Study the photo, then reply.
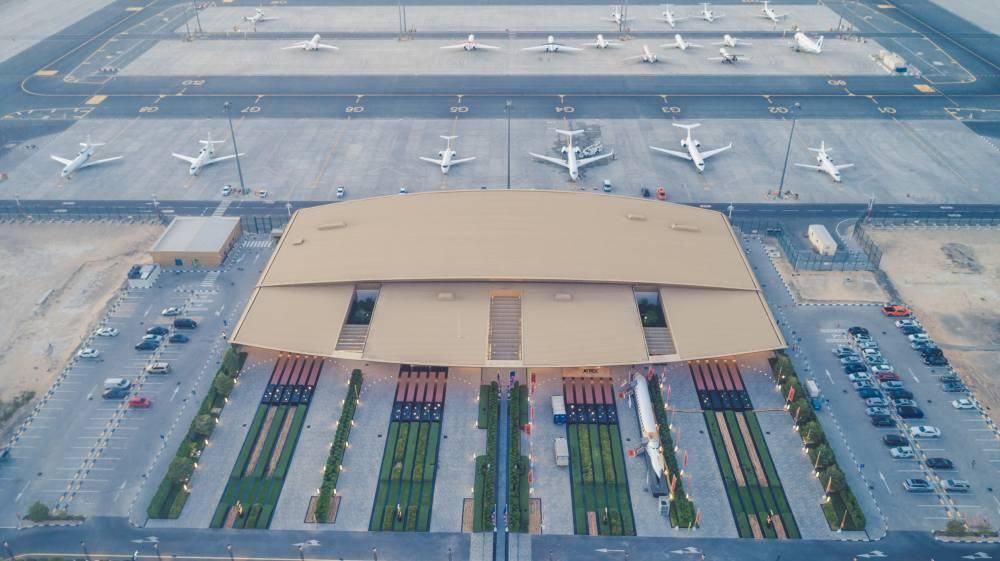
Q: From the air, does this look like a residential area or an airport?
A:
airport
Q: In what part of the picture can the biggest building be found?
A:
center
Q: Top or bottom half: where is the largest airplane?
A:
bottom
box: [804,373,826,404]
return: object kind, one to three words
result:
truck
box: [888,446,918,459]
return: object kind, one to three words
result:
vehicle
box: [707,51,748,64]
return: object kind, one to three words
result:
airplane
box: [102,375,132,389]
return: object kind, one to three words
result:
vehicle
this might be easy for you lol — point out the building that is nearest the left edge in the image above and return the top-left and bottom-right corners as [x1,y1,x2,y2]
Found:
[146,216,242,270]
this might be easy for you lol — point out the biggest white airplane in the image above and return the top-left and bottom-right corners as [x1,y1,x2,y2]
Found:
[619,372,669,496]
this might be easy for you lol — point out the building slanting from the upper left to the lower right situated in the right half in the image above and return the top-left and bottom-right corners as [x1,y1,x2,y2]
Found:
[801,218,840,252]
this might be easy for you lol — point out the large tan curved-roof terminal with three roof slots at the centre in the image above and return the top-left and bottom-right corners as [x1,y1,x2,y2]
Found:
[228,190,787,368]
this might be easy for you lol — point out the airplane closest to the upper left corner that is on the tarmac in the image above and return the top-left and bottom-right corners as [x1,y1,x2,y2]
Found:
[48,134,125,179]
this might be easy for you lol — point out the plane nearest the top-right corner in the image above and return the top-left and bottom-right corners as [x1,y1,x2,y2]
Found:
[780,32,846,52]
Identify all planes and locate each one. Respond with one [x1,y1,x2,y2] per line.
[583,37,623,50]
[690,4,726,25]
[439,35,499,51]
[780,32,846,52]
[794,141,854,185]
[661,39,701,52]
[754,9,791,25]
[522,36,583,52]
[278,36,339,52]
[619,372,669,496]
[648,123,733,174]
[48,134,125,179]
[707,51,748,64]
[710,36,750,49]
[529,130,614,181]
[419,136,476,178]
[601,13,636,27]
[171,131,245,176]
[650,7,687,28]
